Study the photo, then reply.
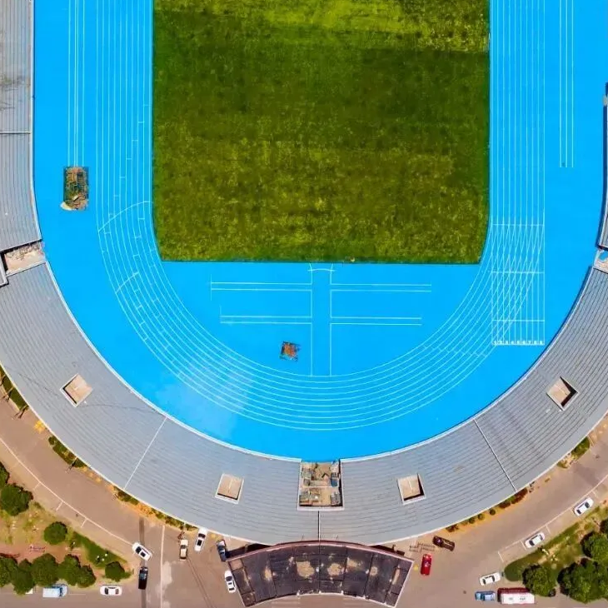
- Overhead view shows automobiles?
Yes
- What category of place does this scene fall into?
sports ground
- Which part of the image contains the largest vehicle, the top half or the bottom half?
bottom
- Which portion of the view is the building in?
bottom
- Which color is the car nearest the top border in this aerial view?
white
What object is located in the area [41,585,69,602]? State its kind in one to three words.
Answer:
vehicle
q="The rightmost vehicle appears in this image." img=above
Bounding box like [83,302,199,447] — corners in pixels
[572,496,594,515]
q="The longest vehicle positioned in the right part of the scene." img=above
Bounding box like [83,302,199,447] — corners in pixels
[498,587,537,607]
